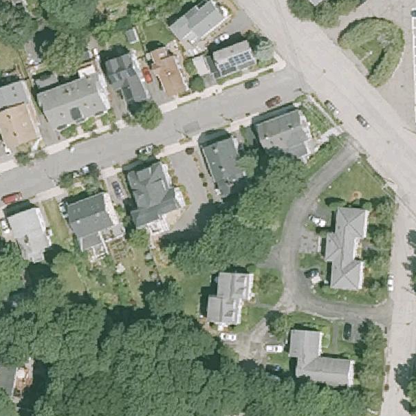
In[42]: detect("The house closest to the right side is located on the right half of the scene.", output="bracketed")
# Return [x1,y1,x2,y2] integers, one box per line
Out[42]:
[325,207,370,289]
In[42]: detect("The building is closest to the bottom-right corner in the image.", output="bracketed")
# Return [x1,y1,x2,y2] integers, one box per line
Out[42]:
[290,330,355,387]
